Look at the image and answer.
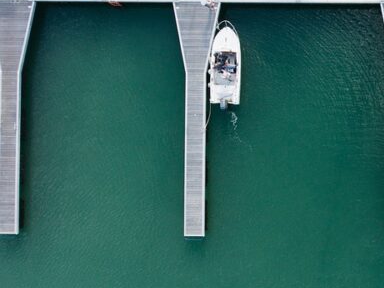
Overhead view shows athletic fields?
No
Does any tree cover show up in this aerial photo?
No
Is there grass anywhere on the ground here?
No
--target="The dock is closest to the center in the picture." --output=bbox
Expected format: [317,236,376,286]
[173,3,219,238]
